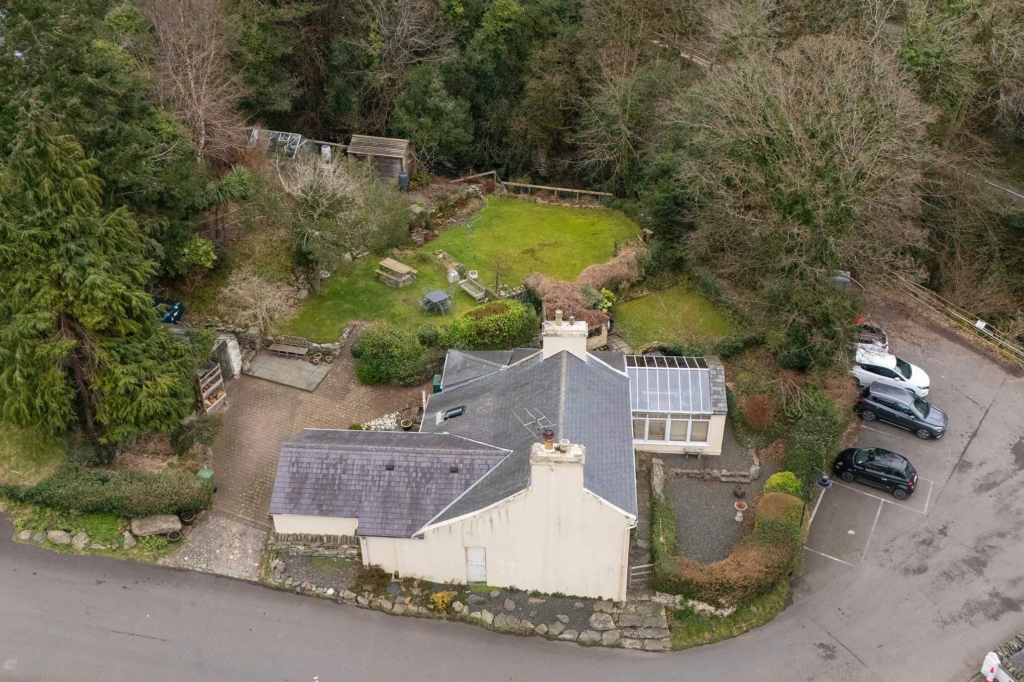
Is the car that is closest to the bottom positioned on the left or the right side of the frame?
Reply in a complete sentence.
You can find the car that is closest to the bottom on the right side of the picture.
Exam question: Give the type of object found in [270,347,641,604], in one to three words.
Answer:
house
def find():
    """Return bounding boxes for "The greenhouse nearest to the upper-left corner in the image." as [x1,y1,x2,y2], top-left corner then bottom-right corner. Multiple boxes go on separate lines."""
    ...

[250,130,313,174]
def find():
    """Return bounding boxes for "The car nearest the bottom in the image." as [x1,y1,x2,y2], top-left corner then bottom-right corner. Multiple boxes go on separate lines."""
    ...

[839,449,923,503]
